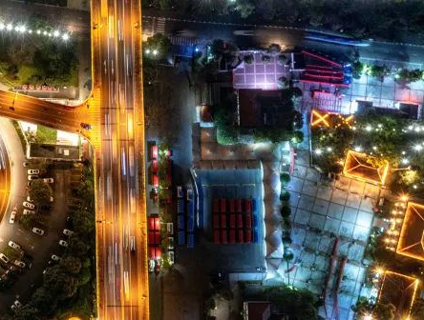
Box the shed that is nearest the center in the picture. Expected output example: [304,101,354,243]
[193,106,213,128]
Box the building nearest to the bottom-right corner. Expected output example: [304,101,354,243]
[366,271,420,320]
